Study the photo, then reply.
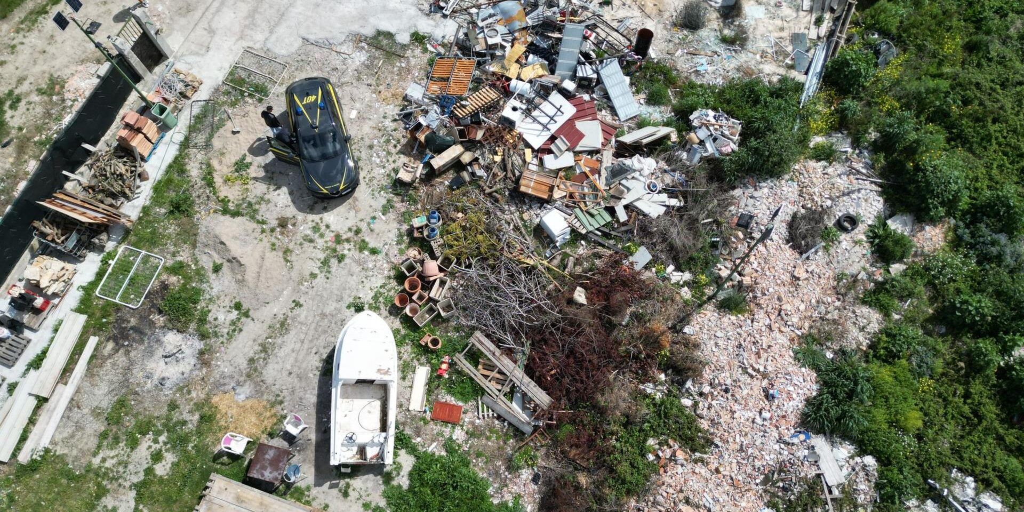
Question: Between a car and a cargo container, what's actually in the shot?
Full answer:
I can see a car in this picture.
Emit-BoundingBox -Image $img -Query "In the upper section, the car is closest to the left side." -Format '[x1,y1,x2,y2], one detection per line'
[268,75,361,199]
